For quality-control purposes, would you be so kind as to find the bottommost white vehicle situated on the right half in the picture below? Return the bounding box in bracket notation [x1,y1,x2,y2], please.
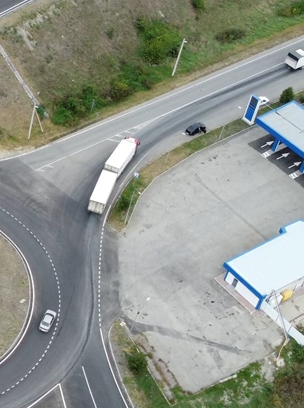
[256,94,273,106]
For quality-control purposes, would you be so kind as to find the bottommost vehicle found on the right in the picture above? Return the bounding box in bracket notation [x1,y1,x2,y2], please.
[184,122,209,137]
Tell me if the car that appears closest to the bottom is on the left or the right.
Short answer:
left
